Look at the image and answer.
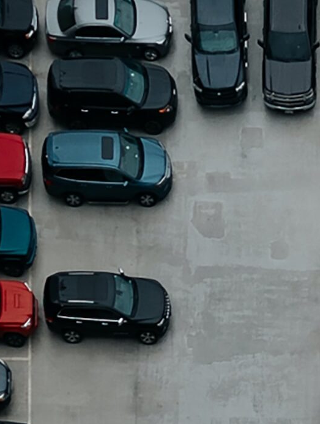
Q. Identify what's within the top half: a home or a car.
car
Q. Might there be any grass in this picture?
No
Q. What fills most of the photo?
paved ground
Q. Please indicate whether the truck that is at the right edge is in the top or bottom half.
top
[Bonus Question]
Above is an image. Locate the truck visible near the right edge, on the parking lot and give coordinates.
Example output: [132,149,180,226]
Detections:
[258,0,320,111]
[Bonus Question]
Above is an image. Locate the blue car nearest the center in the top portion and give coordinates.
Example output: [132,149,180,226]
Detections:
[40,128,173,206]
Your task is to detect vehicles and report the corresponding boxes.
[258,0,320,111]
[40,128,173,206]
[45,0,173,60]
[42,269,171,344]
[0,207,38,276]
[186,0,248,107]
[0,0,39,58]
[0,133,32,203]
[0,280,38,347]
[0,61,39,134]
[46,54,178,132]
